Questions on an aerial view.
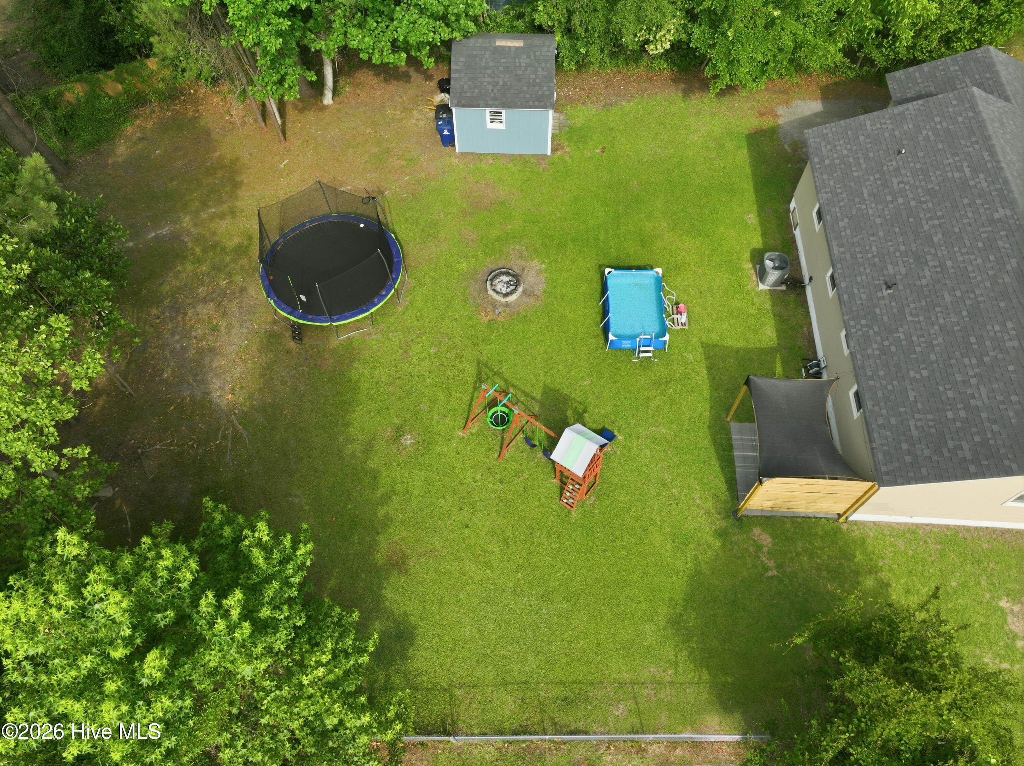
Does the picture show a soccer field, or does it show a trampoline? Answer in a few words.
trampoline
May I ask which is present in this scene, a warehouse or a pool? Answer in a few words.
pool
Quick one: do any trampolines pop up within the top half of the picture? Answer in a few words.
Yes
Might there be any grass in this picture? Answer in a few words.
Yes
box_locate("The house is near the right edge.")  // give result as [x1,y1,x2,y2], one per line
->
[789,43,1024,530]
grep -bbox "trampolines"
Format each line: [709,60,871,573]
[255,176,404,338]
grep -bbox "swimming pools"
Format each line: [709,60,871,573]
[598,267,671,355]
